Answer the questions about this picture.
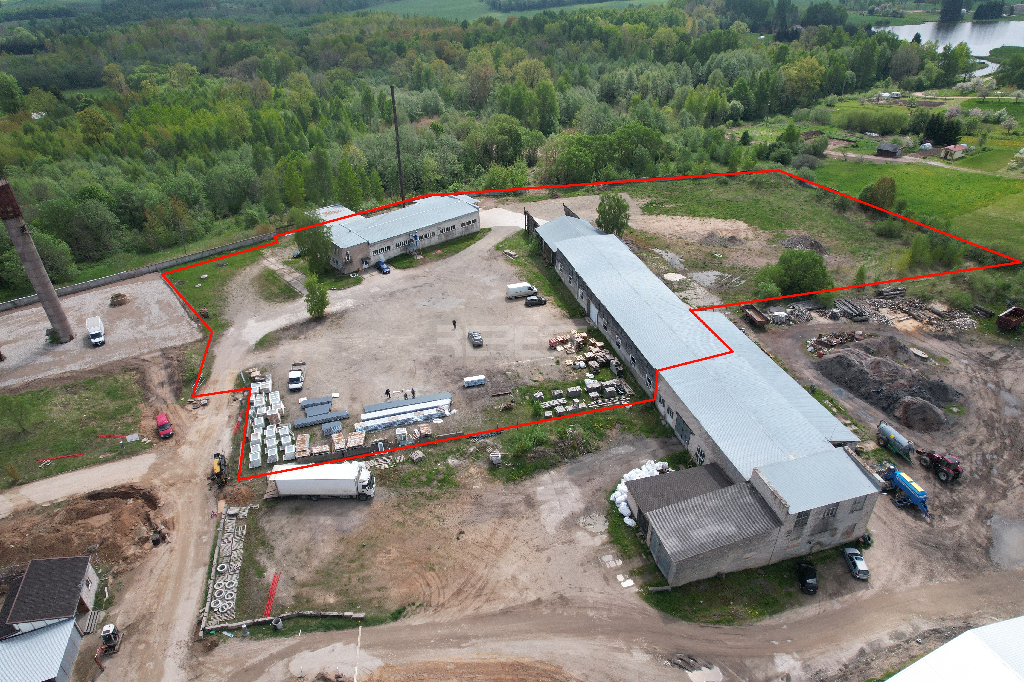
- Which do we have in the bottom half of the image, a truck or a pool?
truck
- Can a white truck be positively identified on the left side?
Yes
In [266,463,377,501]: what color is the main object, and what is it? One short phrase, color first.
white truck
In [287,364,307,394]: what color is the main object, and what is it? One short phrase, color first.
white vehicle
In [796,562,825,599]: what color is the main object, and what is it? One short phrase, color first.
black car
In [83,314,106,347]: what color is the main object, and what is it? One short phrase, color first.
white vehicle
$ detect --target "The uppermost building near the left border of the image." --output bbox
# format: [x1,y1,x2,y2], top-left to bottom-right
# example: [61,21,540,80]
[0,556,108,643]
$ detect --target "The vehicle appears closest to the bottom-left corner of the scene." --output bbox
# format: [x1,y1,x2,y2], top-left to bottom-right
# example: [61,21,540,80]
[86,624,122,682]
